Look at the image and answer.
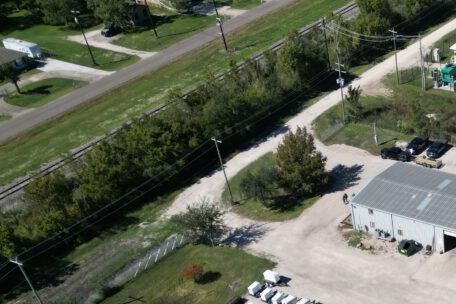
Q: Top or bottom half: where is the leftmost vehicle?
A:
top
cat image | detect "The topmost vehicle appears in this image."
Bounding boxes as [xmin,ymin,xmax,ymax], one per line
[98,23,122,37]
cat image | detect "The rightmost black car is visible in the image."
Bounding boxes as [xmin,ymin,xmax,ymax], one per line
[427,137,448,159]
